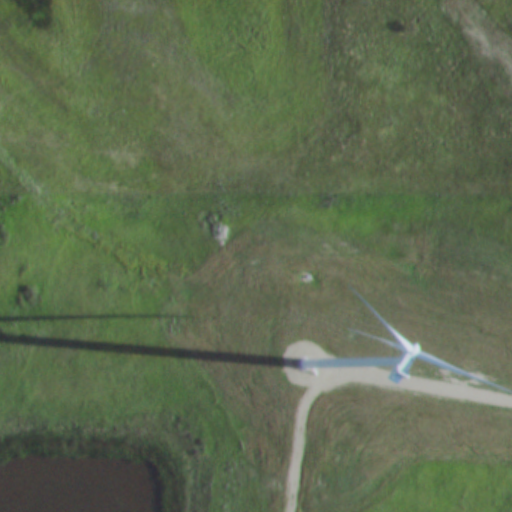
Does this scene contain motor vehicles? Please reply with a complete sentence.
No, there is no motor vehicle in the image.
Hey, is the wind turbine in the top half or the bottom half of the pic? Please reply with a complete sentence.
The bottom half of the photo is where the wind turbine is.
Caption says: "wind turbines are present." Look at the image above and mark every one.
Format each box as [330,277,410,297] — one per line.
[300,284,512,390]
